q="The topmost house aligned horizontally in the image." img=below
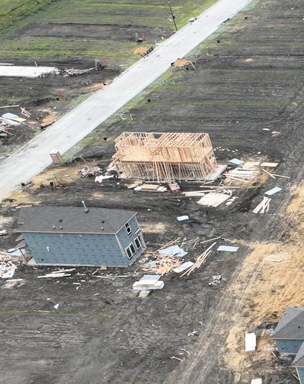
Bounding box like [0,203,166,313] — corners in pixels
[111,131,224,181]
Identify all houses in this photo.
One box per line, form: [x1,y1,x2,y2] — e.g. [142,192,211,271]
[272,306,304,355]
[7,204,148,269]
[111,131,224,181]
